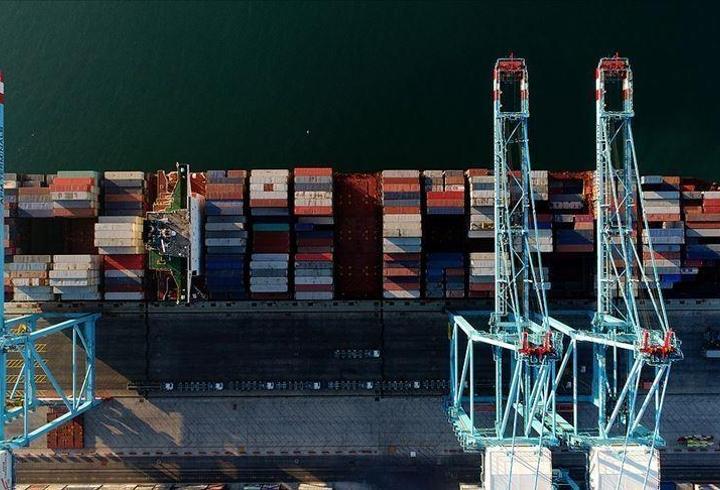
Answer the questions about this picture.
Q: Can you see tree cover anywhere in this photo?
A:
No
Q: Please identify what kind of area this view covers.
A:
port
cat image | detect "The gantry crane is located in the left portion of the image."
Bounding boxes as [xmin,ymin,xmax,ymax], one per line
[0,60,104,490]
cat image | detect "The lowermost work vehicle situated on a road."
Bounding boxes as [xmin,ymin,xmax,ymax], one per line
[557,459,588,490]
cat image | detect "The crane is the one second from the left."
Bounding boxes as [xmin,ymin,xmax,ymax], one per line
[439,51,568,490]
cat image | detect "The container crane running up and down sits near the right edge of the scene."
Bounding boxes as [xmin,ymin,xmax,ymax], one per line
[527,51,691,490]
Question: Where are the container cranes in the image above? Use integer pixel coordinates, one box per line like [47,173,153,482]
[0,60,104,490]
[527,51,691,490]
[439,51,568,490]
